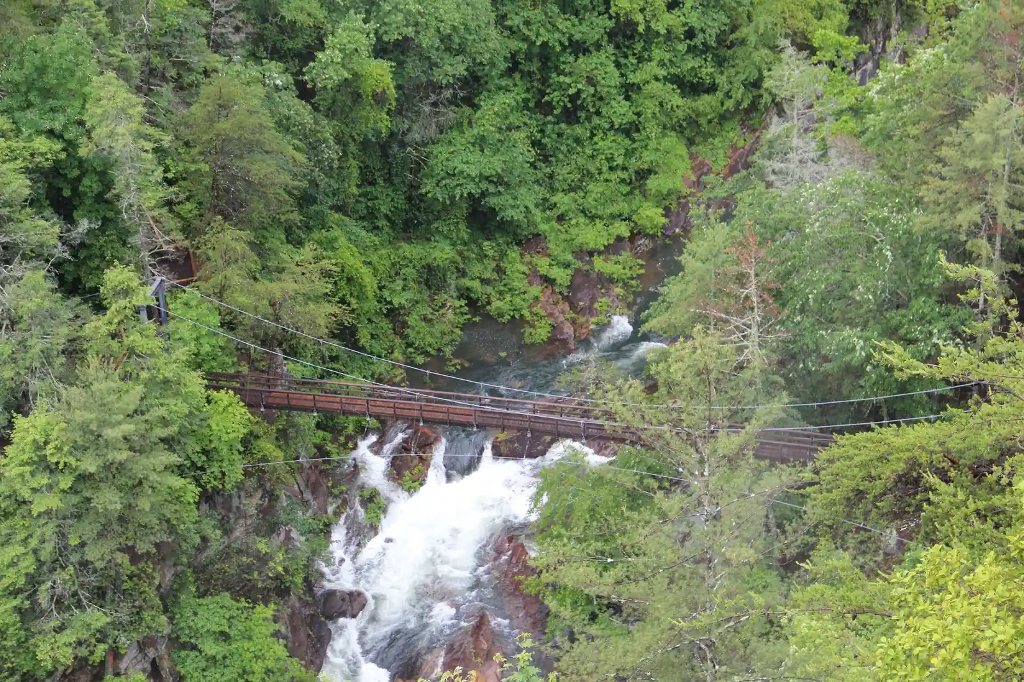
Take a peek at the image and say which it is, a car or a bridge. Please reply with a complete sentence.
The image shows a bridge.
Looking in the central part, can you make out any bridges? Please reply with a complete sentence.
Yes, the scene does show a bridge in the central part.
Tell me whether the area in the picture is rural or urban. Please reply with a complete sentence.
This place is rural.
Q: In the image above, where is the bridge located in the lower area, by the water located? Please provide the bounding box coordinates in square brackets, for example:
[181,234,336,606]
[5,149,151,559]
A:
[78,276,1022,549]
